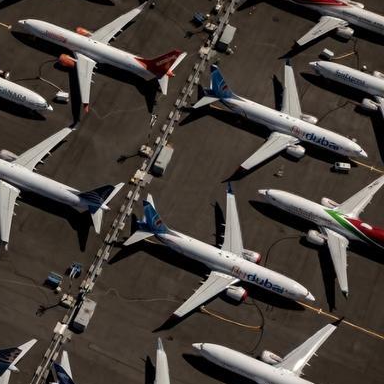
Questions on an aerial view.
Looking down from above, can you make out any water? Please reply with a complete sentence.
No, water can't be seen anywhere here.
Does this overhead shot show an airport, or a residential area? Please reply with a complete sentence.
The picture captures an airport.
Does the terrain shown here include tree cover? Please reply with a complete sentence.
No, there is no tree cover in the image.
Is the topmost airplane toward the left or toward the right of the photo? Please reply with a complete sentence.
The topmost airplane is on the right side of the image.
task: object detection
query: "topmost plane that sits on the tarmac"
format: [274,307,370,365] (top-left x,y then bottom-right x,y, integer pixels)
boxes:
[292,0,384,48]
